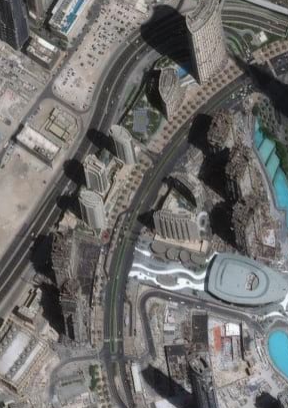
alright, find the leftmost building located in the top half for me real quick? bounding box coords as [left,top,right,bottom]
[0,0,34,55]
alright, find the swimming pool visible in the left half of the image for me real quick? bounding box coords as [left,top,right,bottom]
[60,0,84,32]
